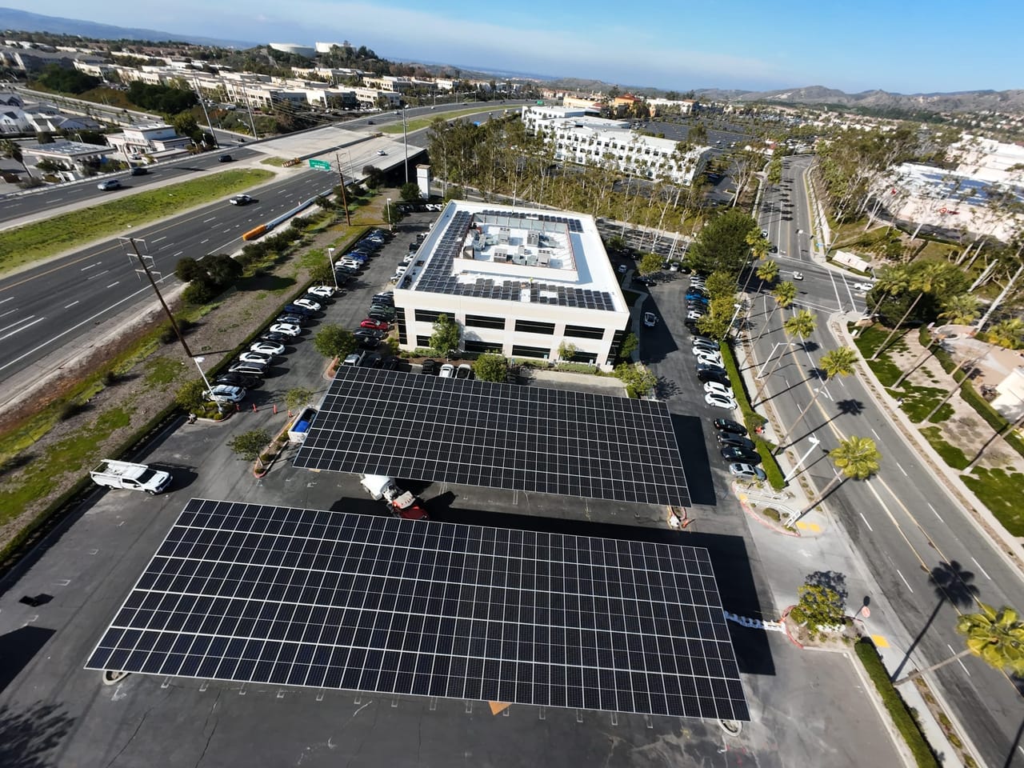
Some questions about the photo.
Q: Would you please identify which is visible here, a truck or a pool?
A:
truck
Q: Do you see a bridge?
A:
Yes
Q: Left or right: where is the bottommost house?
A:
right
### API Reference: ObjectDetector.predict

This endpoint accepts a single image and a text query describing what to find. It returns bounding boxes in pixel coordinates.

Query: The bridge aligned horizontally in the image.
[252,120,426,181]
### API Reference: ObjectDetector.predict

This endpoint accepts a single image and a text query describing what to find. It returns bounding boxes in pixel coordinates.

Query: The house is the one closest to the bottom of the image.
[985,370,1024,418]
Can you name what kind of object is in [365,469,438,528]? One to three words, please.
truck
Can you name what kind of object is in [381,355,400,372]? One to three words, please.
car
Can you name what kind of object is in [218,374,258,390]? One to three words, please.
car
